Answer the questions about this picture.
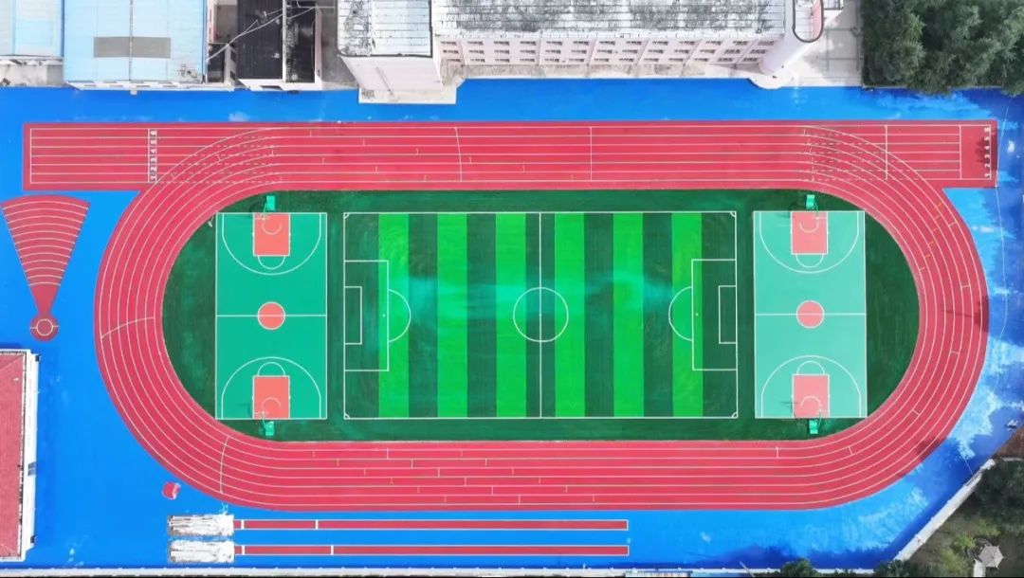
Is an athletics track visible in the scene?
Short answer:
Yes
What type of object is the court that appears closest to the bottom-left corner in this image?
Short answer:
basketball court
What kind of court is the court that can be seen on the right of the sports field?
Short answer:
basketball court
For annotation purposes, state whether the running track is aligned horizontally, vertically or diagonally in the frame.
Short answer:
horizontally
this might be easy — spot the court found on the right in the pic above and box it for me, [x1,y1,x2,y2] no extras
[753,211,867,418]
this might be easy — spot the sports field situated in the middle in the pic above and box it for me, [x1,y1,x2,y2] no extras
[344,211,737,419]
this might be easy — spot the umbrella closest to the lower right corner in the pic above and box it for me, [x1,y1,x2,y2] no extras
[976,546,1002,568]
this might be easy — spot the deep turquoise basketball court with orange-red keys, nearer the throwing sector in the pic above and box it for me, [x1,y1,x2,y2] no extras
[216,212,327,419]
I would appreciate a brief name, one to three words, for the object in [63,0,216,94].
shed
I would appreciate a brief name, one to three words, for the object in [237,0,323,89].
building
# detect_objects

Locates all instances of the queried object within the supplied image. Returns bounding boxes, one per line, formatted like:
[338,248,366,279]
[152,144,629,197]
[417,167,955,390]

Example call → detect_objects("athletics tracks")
[23,120,998,511]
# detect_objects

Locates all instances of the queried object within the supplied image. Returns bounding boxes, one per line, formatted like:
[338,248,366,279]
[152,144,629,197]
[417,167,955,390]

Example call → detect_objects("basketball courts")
[753,211,867,418]
[216,212,327,419]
